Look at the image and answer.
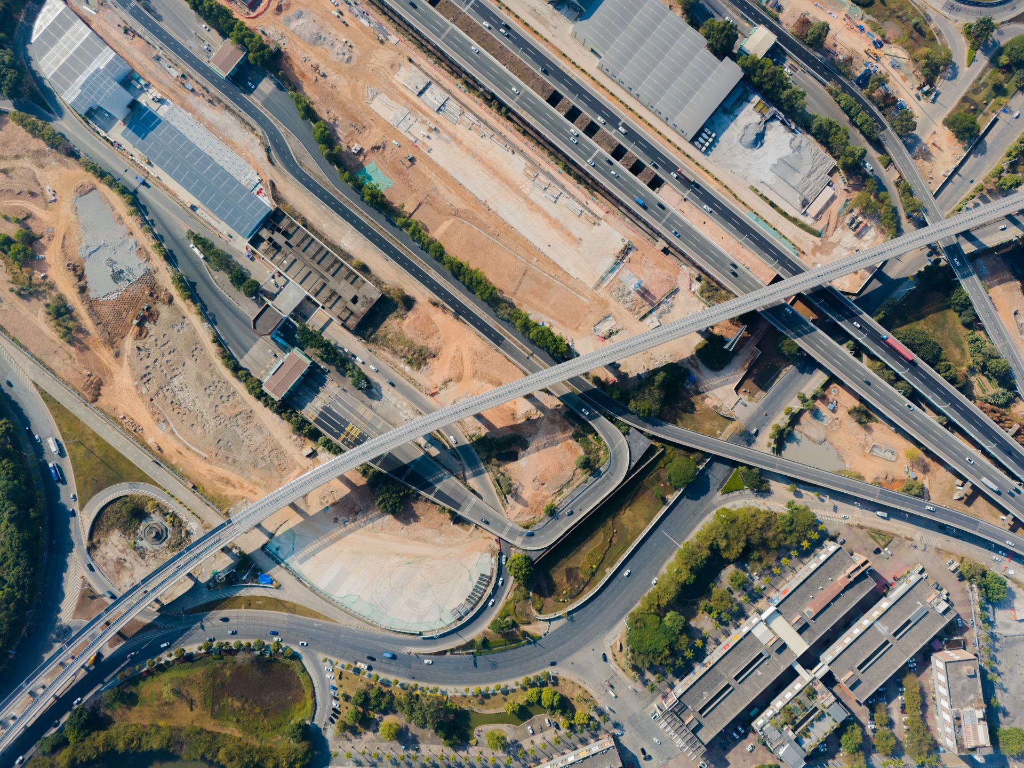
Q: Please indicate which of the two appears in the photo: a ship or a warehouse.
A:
warehouse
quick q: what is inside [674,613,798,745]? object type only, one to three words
building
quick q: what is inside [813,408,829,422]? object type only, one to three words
swimming pool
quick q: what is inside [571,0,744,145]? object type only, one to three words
warehouse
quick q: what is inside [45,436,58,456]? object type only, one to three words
vehicle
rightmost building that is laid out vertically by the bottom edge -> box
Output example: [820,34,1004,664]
[927,648,994,756]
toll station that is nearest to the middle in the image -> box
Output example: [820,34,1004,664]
[262,347,319,403]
